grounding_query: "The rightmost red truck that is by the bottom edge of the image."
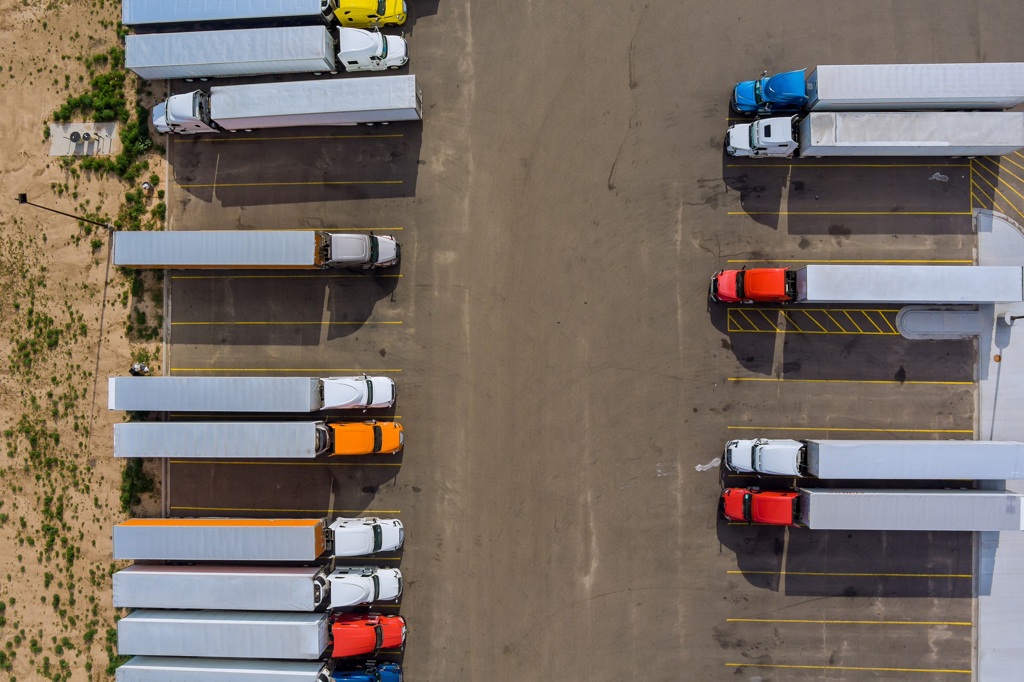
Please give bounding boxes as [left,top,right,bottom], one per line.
[313,609,407,659]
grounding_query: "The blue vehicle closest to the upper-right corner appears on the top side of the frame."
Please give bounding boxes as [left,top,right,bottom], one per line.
[730,67,835,115]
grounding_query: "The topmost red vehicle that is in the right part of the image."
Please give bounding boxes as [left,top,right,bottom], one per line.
[709,264,796,305]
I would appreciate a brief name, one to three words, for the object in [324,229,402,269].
truck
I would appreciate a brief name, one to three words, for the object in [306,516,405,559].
truck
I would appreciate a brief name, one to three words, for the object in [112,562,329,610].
trailer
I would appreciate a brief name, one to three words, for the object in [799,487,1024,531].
trailer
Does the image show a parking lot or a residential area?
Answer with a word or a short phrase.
parking lot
